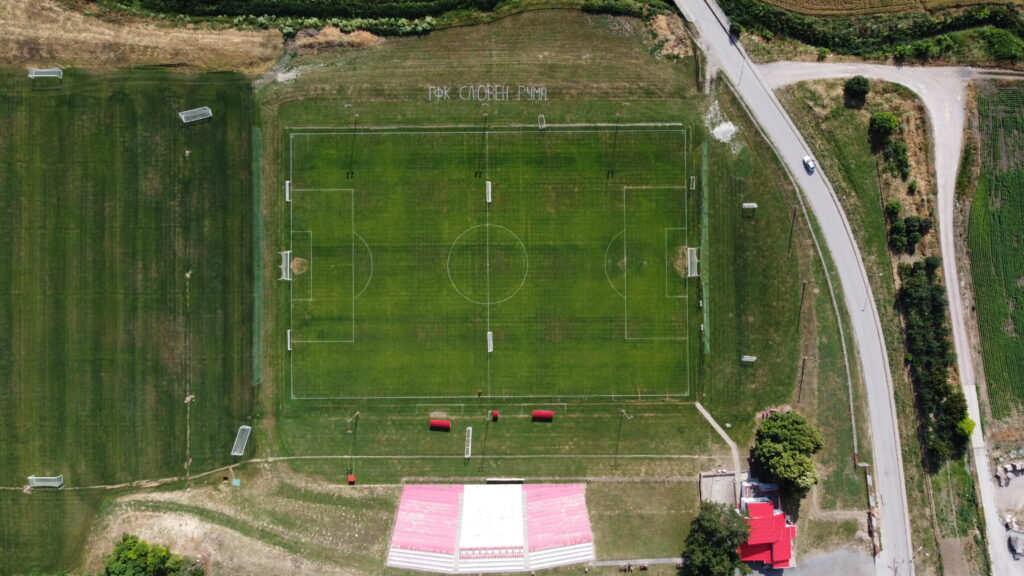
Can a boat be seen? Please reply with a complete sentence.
No, I can't see a single boat in this photo.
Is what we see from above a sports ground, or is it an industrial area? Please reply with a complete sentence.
This image shows a sports ground.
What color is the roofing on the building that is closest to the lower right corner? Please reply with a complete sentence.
The roof of the building that is closest to the lower right corner is red.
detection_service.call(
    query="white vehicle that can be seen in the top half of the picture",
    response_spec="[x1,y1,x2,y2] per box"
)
[803,156,816,171]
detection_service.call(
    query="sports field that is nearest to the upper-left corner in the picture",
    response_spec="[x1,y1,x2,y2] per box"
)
[0,76,252,470]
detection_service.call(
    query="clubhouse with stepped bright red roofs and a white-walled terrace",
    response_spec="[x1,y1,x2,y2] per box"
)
[735,478,796,567]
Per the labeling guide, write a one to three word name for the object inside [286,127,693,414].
soccer field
